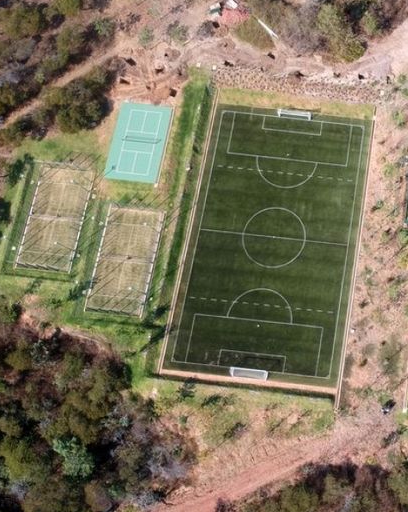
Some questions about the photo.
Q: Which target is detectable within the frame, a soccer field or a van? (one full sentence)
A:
There is a soccer field in the scene.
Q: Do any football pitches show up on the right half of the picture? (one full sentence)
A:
Yes, you'll find a football pitch on the right half of the picture.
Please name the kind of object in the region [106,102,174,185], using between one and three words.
sports court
